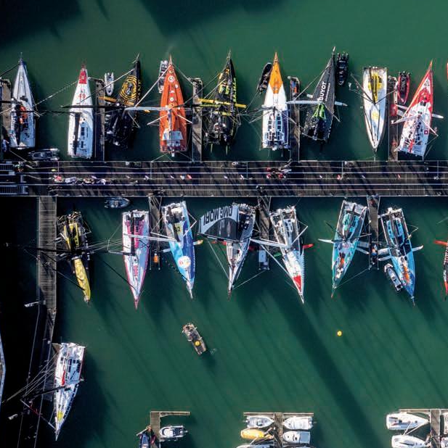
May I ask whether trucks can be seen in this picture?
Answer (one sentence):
No, no truck can be seen from above.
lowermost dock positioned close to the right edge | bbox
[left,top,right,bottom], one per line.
[399,409,448,448]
